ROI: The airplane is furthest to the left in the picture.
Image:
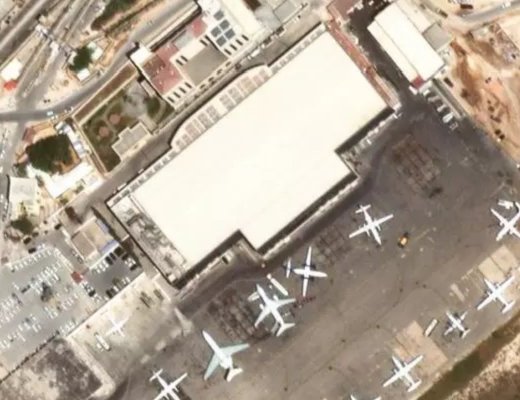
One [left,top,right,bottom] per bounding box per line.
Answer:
[104,316,130,341]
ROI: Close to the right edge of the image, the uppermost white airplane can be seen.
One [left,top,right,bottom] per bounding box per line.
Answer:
[493,201,520,240]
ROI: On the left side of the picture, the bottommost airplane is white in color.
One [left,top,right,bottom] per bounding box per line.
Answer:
[149,369,187,400]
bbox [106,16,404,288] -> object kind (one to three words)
building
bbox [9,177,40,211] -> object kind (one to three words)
house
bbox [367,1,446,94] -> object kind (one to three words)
hangar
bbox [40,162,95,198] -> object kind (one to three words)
building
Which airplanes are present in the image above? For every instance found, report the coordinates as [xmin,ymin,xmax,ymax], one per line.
[104,316,130,341]
[443,312,470,338]
[149,369,187,400]
[349,204,393,245]
[285,248,328,297]
[493,201,520,240]
[202,330,248,383]
[382,355,424,392]
[477,276,515,313]
[257,284,296,335]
